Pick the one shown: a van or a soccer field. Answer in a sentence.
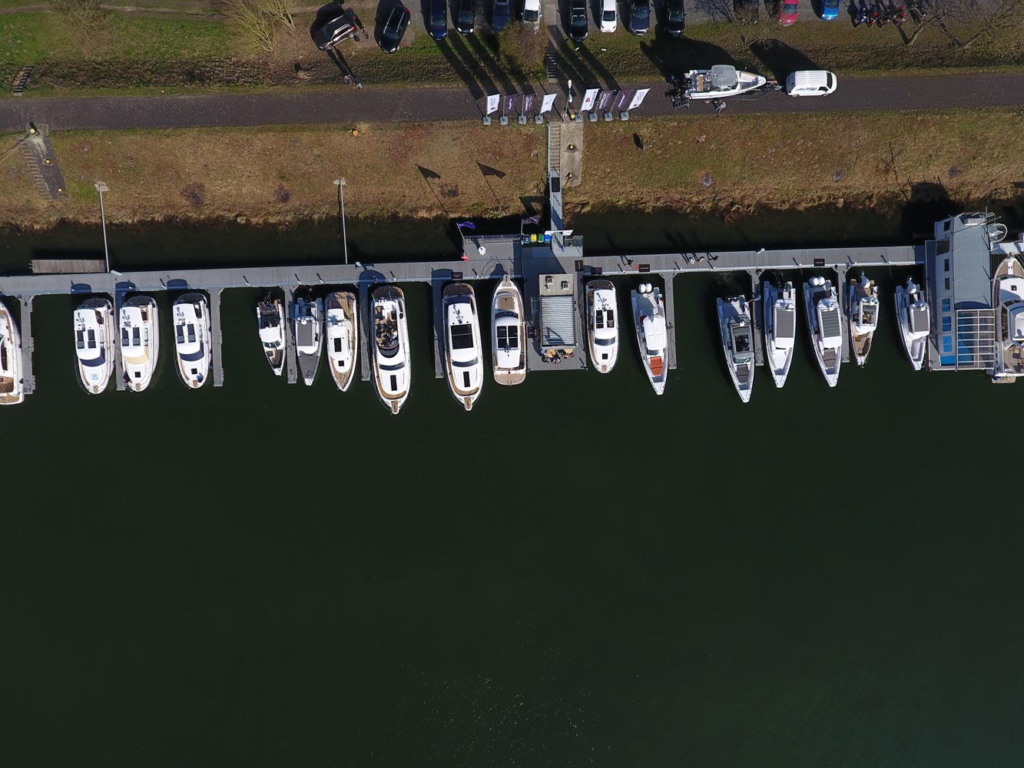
The image shows a van.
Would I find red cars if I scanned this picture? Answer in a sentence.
Yes, the photo shows a red car.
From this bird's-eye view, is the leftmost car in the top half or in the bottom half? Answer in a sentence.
Seen from above, the leftmost car lies in the top half of the view.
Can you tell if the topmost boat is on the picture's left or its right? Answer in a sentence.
It is on the right.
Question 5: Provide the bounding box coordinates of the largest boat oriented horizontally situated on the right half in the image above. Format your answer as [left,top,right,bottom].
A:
[671,67,766,102]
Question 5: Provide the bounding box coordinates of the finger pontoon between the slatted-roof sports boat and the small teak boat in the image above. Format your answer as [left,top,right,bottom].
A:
[831,266,853,363]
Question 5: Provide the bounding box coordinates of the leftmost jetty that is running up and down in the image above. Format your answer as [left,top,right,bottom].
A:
[14,297,39,394]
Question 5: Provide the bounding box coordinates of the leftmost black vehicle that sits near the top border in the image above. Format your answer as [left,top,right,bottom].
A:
[317,6,361,52]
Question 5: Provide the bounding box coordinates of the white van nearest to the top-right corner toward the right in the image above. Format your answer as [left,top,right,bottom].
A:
[786,66,838,96]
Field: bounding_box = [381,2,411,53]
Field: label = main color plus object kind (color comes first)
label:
black car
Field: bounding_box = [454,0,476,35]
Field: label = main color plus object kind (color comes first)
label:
black car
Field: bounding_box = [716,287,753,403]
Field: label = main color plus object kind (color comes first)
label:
gray boat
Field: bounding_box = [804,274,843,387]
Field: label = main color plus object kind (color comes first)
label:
gray boat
